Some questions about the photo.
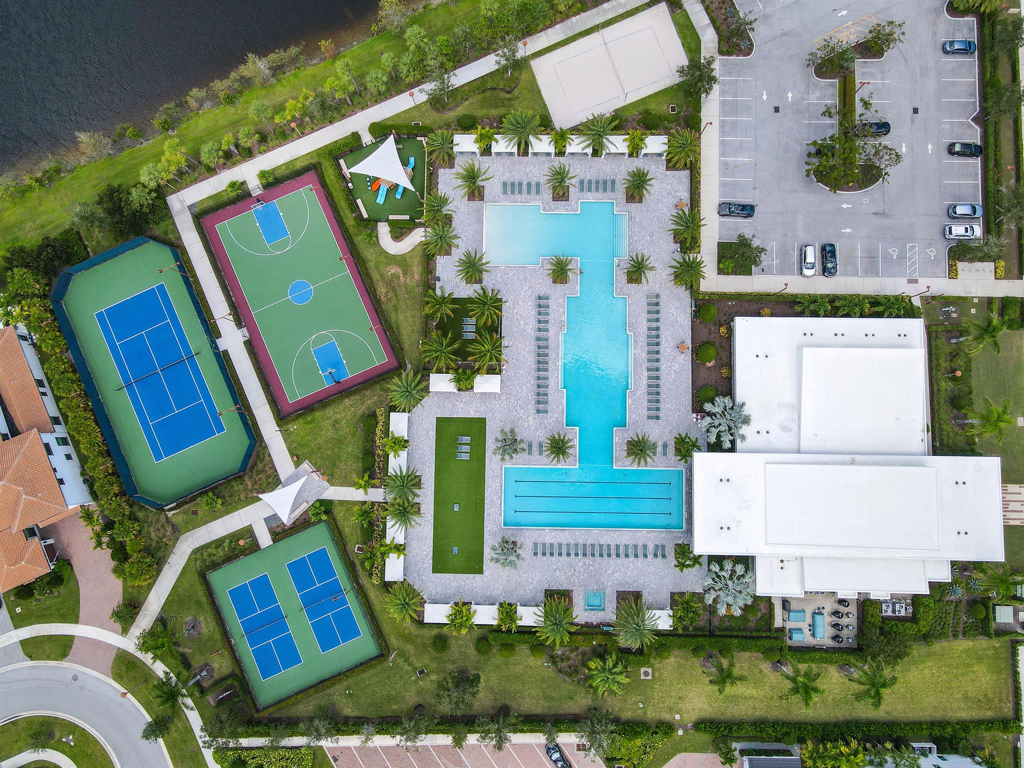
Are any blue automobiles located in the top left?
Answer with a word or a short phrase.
No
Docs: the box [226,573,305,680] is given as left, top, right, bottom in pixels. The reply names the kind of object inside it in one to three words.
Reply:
sports court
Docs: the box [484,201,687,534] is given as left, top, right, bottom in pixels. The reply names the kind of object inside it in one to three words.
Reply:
swimming pool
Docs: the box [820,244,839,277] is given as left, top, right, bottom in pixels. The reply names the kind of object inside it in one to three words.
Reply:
car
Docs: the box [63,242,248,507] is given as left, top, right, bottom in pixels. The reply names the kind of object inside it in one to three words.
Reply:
tennis court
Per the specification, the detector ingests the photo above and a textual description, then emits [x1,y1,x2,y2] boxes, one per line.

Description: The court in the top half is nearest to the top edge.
[530,1,690,130]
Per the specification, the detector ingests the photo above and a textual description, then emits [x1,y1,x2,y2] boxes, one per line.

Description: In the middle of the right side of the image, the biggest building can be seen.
[692,317,1005,599]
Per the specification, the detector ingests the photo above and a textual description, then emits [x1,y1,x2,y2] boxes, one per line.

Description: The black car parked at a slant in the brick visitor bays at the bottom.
[546,742,569,768]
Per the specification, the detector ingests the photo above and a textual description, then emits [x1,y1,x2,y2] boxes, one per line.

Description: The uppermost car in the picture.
[942,39,975,56]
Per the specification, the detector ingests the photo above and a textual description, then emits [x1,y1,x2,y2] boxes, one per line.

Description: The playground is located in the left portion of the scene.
[338,137,425,220]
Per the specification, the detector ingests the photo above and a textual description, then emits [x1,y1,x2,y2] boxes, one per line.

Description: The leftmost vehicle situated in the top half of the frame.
[718,201,754,218]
